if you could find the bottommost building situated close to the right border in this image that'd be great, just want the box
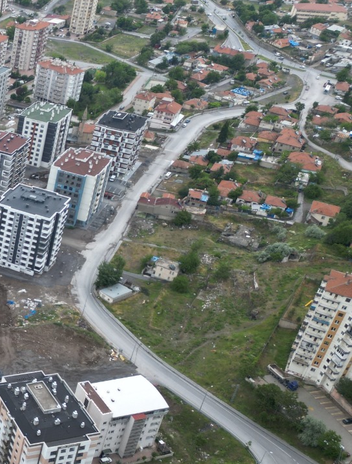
[292,266,352,389]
